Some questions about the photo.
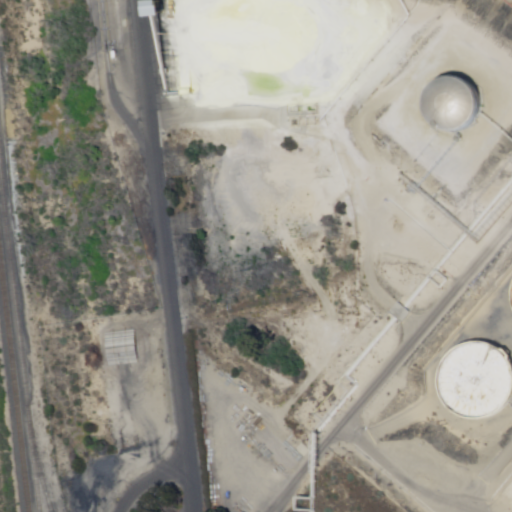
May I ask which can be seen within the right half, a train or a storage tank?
storage tank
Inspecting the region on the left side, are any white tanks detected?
No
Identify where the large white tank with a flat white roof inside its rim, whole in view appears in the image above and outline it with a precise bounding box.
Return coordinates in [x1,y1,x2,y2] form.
[438,340,512,420]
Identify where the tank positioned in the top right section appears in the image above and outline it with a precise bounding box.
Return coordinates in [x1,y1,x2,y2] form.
[420,76,479,133]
